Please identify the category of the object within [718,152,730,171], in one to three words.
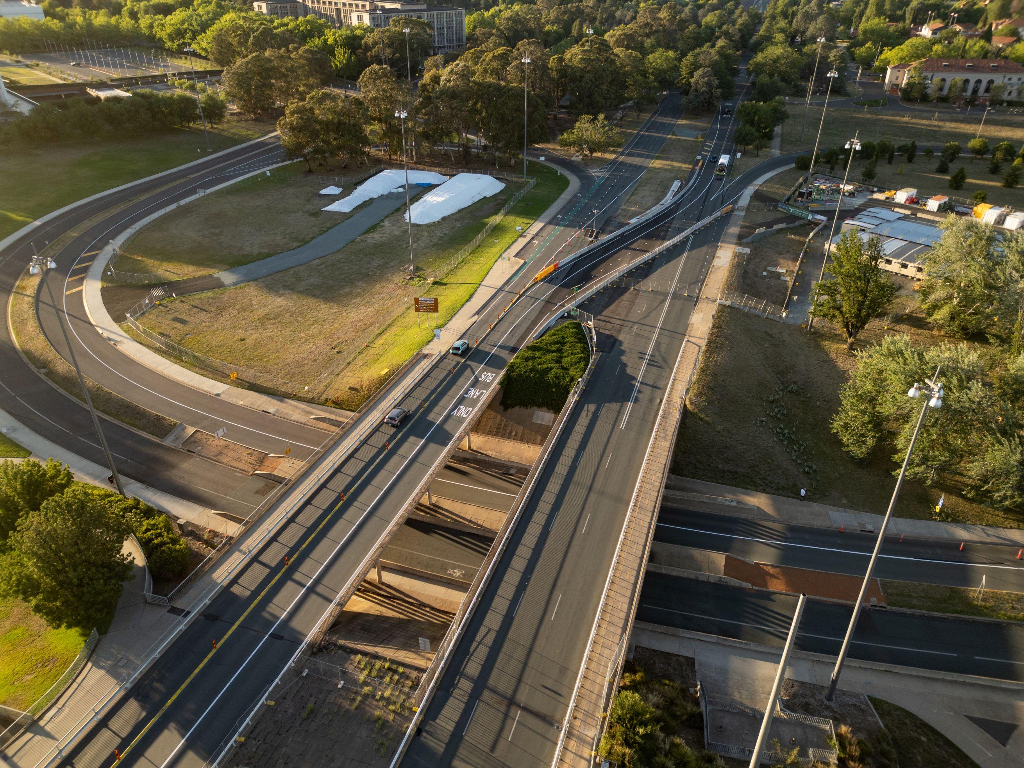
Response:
vehicle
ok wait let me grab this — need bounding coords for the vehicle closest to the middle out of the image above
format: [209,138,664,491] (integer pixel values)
[451,340,471,355]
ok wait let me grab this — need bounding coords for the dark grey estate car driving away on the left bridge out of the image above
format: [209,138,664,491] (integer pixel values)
[383,405,411,427]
